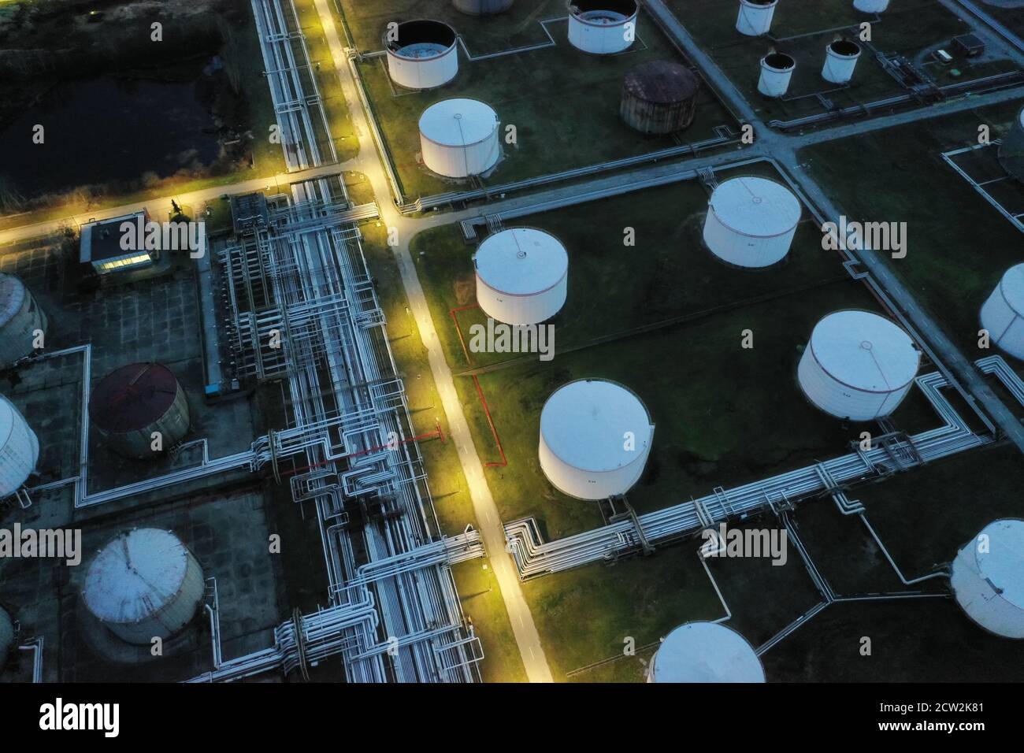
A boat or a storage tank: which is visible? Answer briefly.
storage tank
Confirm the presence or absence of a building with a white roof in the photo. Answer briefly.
No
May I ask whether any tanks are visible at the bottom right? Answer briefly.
Yes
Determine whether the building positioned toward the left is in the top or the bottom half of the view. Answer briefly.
top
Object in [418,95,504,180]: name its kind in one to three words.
storage tank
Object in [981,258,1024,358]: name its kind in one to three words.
storage tank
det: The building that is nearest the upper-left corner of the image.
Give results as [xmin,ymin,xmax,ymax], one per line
[81,207,153,277]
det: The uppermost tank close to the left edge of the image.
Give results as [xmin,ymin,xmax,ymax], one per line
[0,270,48,369]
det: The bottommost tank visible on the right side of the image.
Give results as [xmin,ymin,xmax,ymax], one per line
[641,616,769,753]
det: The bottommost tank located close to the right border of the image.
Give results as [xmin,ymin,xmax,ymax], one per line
[948,515,1024,642]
